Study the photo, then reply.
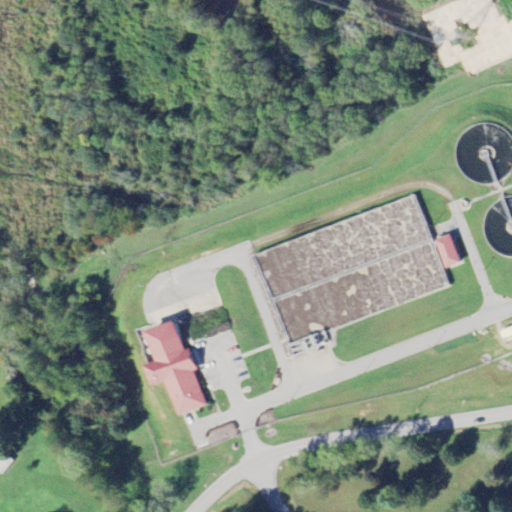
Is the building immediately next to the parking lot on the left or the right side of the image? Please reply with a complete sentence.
The building immediately next to the parking lot is on the left side of the image.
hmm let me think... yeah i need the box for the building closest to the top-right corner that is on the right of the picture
[436,234,460,266]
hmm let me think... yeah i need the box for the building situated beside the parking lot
[141,322,208,416]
